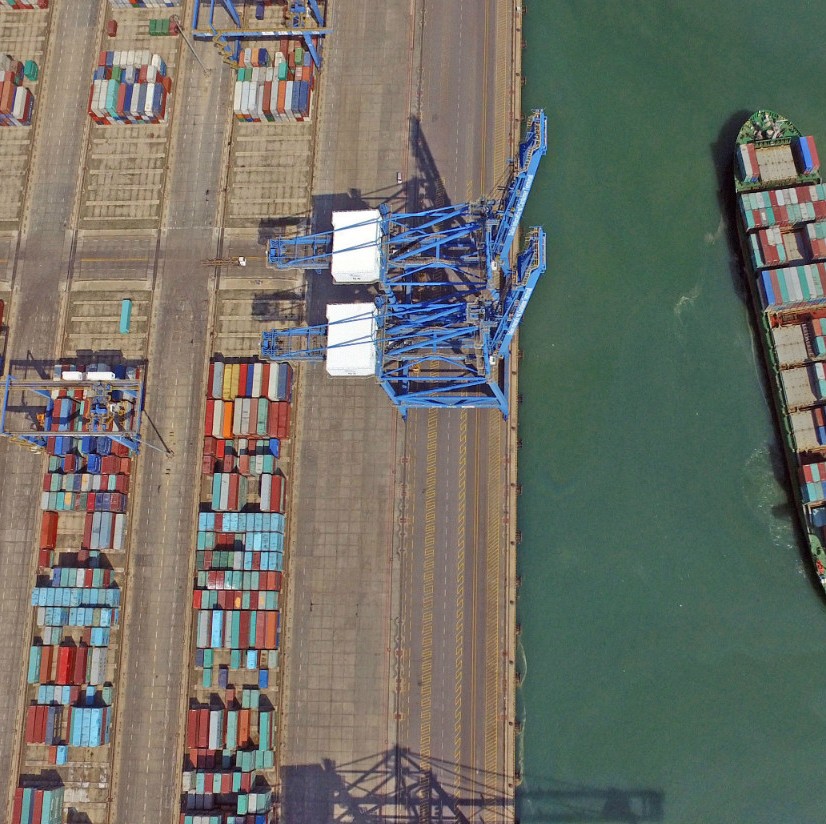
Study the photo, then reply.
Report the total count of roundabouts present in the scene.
zero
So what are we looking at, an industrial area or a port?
port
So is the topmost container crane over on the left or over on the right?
left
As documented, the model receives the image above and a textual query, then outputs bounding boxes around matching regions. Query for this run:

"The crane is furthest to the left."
[0,364,146,454]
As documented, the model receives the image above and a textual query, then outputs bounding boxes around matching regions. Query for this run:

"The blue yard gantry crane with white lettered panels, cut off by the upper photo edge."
[190,0,332,69]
